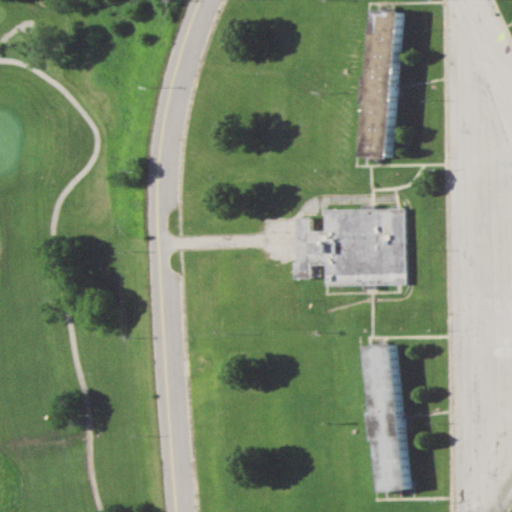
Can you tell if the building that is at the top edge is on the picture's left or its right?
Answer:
right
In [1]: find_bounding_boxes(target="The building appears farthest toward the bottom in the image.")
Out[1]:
[361,344,412,492]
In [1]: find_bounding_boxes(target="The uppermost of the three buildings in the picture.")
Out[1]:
[357,12,403,160]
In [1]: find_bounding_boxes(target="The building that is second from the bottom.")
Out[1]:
[293,208,408,290]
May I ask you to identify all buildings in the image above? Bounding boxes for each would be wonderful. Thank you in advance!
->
[293,208,408,290]
[357,12,403,160]
[361,344,412,492]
